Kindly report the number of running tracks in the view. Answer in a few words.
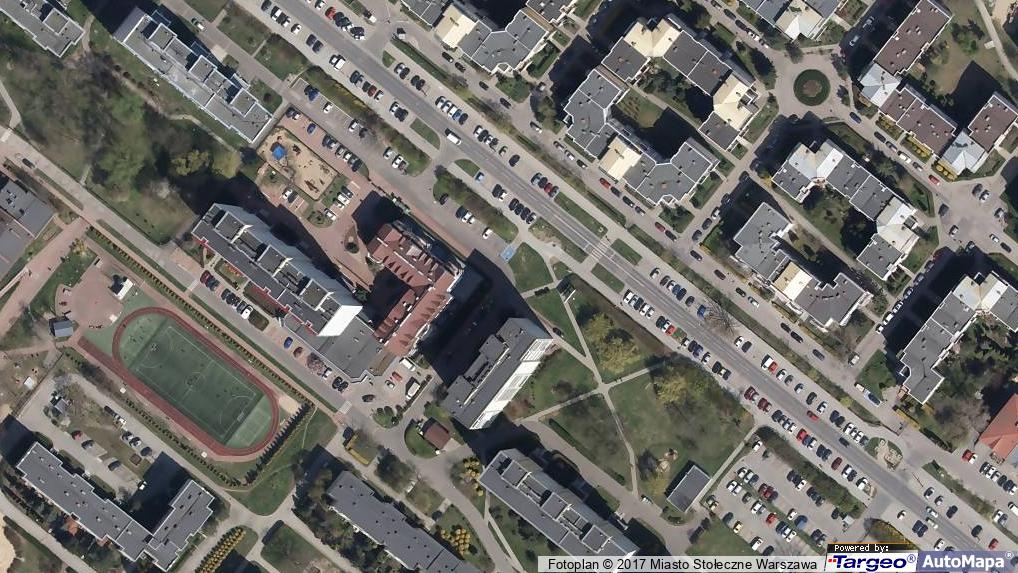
1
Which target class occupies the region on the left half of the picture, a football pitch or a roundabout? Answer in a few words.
football pitch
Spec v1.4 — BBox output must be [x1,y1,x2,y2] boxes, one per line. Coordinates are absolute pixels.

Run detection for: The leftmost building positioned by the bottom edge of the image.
[16,440,223,571]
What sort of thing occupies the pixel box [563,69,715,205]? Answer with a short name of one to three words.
building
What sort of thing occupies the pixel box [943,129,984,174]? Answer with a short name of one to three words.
building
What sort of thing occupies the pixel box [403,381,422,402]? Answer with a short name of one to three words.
vehicle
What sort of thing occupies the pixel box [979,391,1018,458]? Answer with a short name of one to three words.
house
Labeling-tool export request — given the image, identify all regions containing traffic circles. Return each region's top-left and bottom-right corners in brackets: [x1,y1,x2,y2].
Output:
[793,69,829,105]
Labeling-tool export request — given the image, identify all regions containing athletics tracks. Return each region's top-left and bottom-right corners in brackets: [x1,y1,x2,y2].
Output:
[76,307,280,457]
